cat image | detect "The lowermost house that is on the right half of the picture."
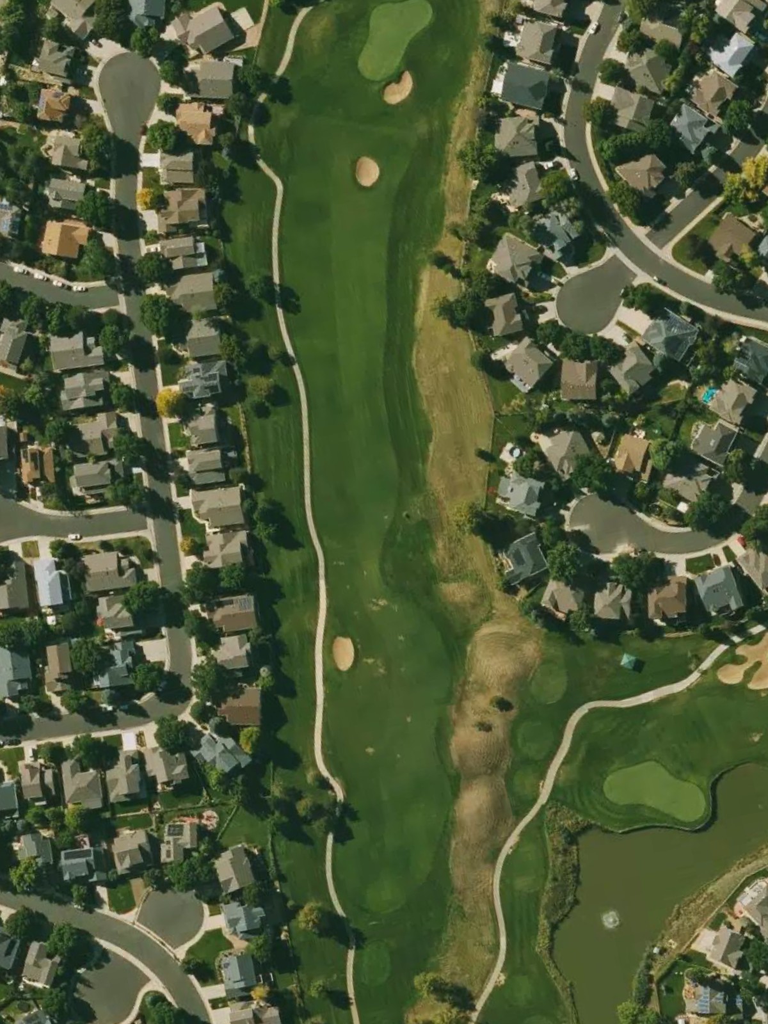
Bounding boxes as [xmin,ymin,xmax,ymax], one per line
[687,986,727,1016]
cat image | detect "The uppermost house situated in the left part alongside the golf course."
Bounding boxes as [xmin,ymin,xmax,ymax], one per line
[169,6,235,53]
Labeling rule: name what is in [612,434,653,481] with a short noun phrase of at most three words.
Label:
house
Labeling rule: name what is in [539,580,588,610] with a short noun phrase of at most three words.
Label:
house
